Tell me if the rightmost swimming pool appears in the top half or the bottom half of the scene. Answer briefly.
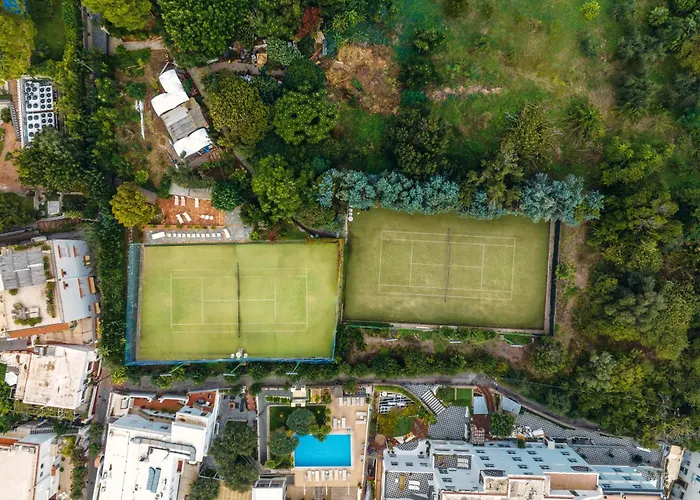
bottom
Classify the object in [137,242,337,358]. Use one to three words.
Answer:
tennis court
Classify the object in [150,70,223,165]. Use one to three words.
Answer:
shed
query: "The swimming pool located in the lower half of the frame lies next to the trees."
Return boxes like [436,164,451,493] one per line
[293,430,353,470]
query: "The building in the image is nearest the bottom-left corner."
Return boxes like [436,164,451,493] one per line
[0,425,62,500]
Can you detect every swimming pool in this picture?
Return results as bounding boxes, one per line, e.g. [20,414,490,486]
[293,430,353,470]
[0,0,23,14]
